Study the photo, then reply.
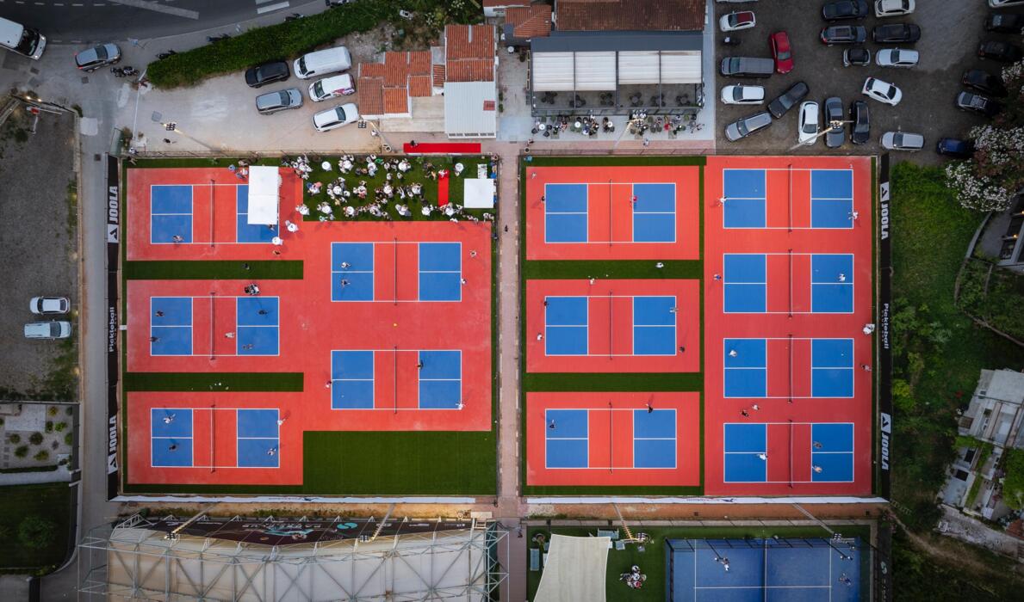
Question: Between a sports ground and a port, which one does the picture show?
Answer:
sports ground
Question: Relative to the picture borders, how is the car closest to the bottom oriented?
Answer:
from left to right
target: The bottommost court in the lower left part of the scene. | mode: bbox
[127,391,303,485]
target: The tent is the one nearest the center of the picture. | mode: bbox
[465,179,494,211]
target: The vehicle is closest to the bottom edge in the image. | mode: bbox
[20,319,73,341]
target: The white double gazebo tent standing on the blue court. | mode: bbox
[247,166,288,227]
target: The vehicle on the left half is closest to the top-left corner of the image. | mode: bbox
[0,20,49,57]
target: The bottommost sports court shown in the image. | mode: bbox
[666,539,878,602]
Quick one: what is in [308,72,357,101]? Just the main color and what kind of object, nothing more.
white van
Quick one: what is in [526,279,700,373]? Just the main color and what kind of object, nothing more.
red sports court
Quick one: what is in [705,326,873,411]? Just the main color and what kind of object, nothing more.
red sports court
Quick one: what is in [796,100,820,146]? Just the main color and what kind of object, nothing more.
white car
